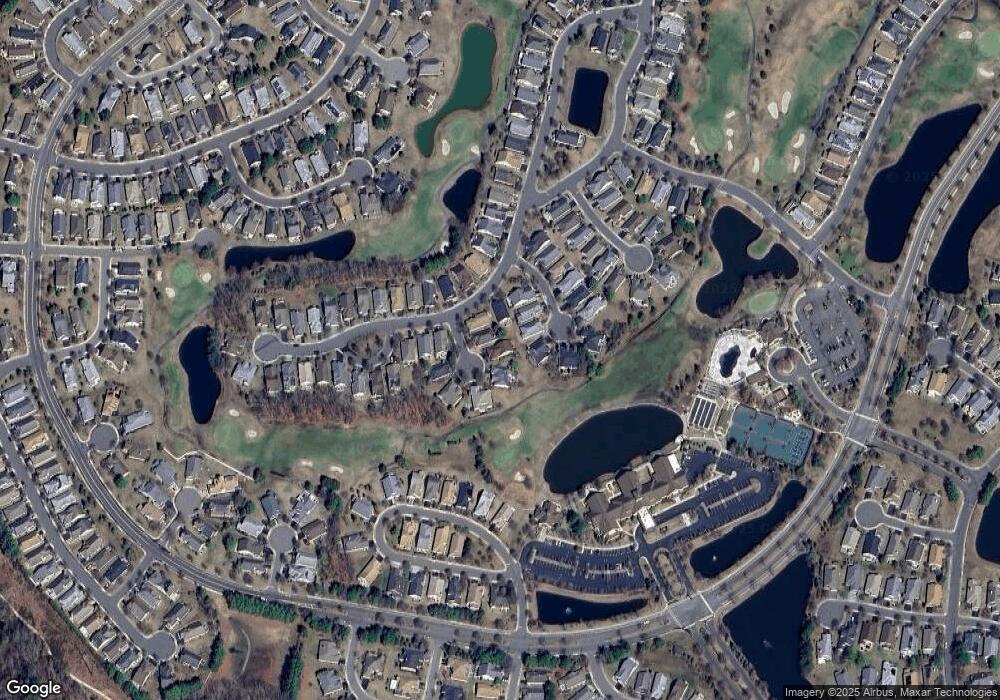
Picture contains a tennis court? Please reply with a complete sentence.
Yes, looking at the shot, I can spot a tennis court.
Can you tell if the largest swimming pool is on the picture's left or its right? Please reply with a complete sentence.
The largest swimming pool appears in the right half of the scene.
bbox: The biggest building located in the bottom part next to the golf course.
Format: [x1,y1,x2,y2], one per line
[582,453,692,537]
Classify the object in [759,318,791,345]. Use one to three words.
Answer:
building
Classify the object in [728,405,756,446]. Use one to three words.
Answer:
tennis court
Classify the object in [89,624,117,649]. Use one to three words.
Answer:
house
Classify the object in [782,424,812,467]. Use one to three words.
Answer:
sports court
